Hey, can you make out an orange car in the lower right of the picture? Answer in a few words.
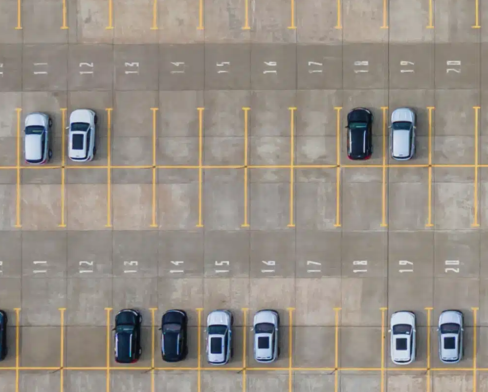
No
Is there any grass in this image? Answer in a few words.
No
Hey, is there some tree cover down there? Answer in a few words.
No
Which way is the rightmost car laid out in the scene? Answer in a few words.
from top to bottom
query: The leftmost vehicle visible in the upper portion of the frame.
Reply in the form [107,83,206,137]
[24,113,52,165]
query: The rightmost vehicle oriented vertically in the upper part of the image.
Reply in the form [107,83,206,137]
[390,107,417,161]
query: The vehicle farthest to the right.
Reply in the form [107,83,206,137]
[437,309,464,364]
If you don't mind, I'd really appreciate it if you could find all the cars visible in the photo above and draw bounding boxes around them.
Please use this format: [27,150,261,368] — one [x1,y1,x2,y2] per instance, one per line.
[346,107,373,160]
[390,107,417,161]
[437,309,464,364]
[24,113,52,165]
[252,308,280,362]
[0,309,8,361]
[114,308,142,362]
[160,308,188,361]
[206,309,233,365]
[390,310,417,364]
[69,109,97,162]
